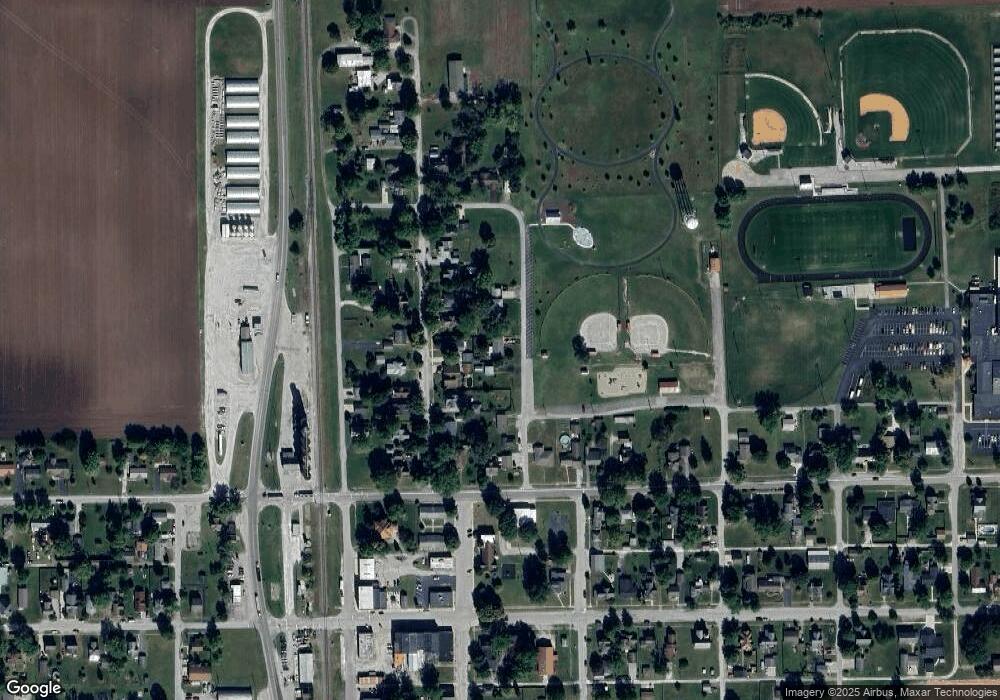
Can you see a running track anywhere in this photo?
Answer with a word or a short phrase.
Yes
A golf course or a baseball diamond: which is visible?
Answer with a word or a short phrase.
baseball diamond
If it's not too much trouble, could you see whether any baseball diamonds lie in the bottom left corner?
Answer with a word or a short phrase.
No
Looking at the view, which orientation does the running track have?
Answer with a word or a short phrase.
from left to right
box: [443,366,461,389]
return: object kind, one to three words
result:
house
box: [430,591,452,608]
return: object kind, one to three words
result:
building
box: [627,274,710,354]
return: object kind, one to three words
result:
baseball field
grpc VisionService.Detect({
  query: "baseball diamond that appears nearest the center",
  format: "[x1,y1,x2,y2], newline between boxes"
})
[539,276,619,358]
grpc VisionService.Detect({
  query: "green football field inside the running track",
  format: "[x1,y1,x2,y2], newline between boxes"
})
[745,203,926,272]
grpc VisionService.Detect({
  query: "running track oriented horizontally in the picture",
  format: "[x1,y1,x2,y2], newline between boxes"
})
[738,194,932,280]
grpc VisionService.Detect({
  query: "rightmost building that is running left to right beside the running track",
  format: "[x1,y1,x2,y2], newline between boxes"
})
[876,283,907,298]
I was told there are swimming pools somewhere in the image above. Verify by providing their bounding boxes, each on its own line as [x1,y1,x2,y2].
[979,524,999,535]
[560,435,570,450]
